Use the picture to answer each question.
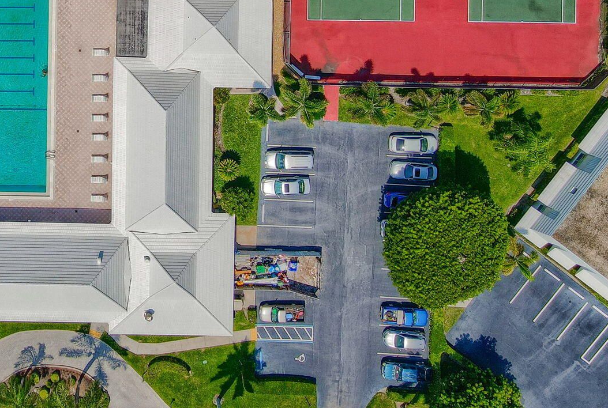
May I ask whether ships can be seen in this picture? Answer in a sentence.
No, this view has no ship in it.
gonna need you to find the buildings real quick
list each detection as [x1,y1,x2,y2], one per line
[0,0,273,337]
[518,101,608,297]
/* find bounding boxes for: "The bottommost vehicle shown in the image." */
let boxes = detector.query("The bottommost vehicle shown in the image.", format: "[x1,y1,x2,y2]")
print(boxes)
[382,358,433,381]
